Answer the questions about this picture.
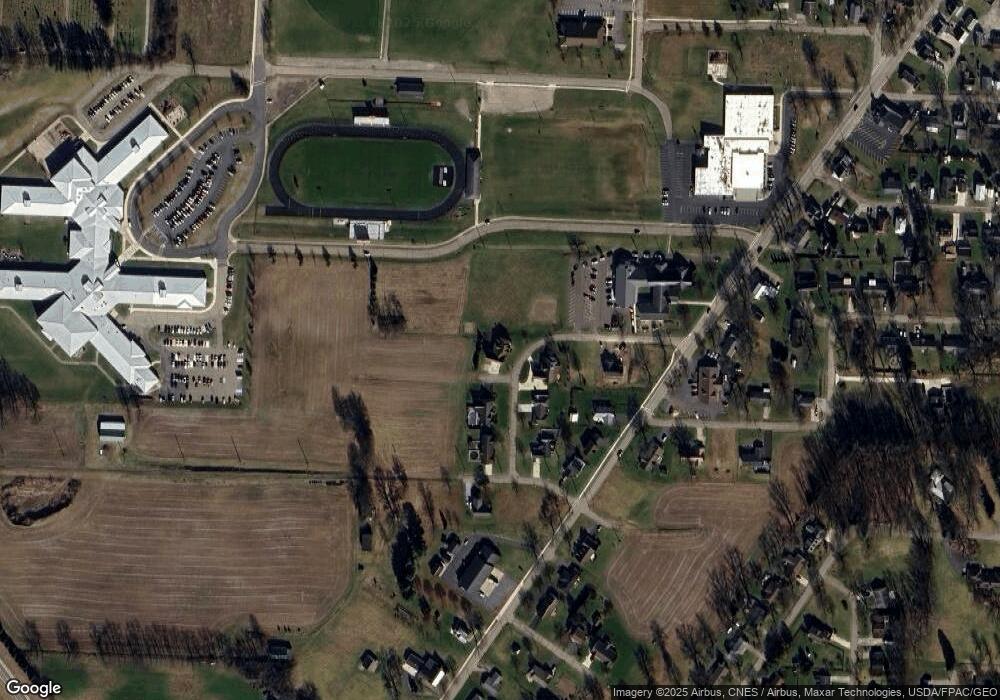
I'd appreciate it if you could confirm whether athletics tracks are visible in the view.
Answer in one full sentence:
Yes, this view includes an athletics track.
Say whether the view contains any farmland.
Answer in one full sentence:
Yes, there is farmland in the image.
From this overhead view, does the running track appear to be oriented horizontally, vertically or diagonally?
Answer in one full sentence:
In this picture, the running track is oriented horizontally.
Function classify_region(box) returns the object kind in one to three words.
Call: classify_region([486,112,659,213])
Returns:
sports field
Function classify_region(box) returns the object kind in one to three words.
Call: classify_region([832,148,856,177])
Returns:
house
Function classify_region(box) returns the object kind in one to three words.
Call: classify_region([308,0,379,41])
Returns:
baseball field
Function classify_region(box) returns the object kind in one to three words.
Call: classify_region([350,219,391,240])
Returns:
building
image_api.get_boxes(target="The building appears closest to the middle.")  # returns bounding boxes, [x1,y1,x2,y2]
[484,333,513,360]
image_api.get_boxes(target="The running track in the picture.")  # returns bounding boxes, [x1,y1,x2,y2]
[266,124,466,217]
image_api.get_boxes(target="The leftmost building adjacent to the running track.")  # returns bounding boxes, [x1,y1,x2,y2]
[0,111,207,394]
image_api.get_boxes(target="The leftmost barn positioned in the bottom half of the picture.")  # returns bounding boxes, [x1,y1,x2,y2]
[99,419,125,438]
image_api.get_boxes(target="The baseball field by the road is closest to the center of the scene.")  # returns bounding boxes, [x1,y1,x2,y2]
[524,292,561,328]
